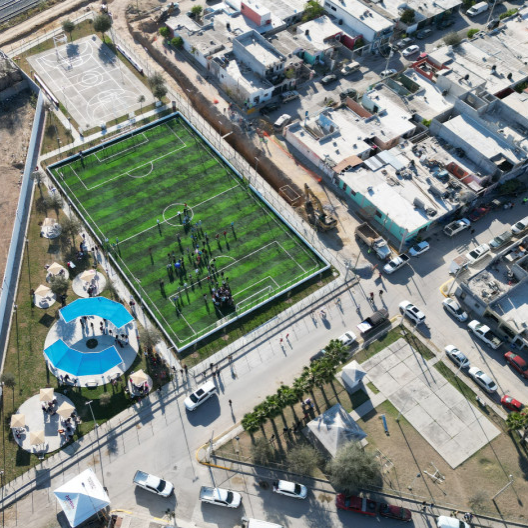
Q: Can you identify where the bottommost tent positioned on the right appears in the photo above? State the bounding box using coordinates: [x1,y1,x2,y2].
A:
[307,403,367,462]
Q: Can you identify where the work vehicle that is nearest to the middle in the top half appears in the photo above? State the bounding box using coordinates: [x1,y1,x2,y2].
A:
[296,181,335,228]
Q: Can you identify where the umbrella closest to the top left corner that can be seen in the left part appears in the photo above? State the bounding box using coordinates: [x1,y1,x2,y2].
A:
[43,217,58,230]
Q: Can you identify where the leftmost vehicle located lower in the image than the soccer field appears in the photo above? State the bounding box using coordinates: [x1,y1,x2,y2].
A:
[132,467,177,499]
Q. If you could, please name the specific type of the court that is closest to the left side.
basketball court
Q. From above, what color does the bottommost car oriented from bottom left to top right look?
white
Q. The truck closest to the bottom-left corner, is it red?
No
